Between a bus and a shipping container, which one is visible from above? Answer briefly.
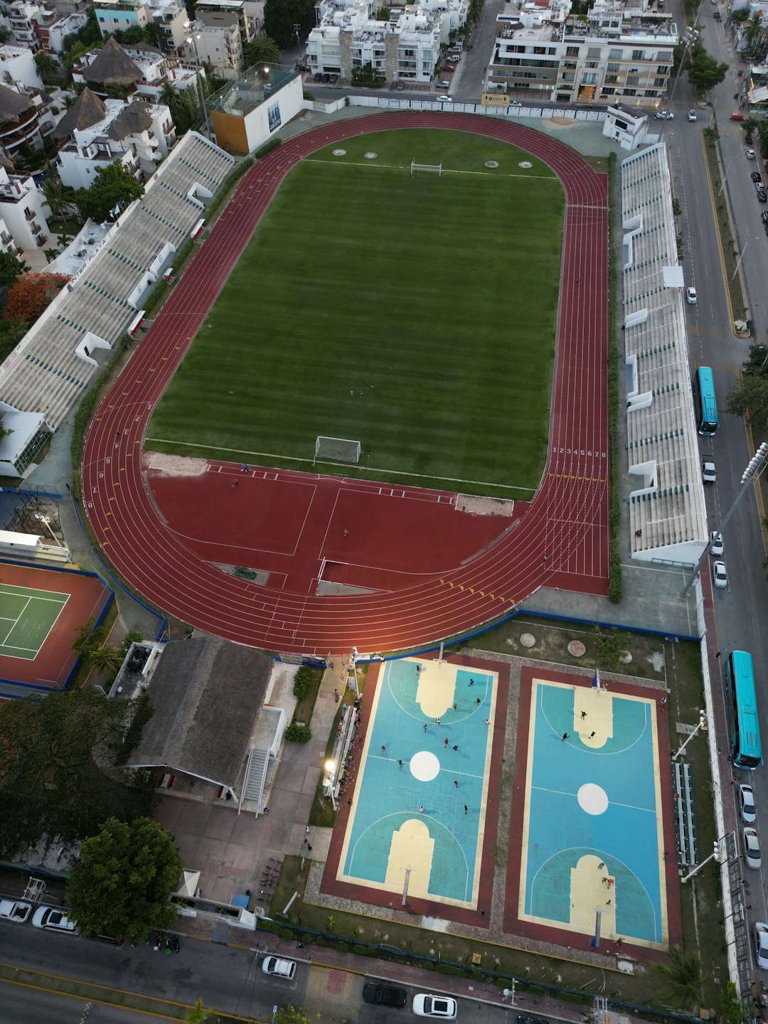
bus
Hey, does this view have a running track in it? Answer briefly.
Yes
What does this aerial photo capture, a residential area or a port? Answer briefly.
residential area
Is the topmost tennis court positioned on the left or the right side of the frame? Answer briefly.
left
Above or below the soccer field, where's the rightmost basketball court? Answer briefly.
below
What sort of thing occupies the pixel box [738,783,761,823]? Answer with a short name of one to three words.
car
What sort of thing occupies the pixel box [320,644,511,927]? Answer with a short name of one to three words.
basketball court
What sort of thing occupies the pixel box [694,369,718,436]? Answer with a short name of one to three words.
bus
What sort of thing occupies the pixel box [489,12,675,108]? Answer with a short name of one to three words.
building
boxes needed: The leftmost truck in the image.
[0,898,35,925]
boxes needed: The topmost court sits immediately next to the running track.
[0,565,106,683]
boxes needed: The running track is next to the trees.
[79,112,610,659]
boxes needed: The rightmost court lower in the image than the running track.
[499,667,684,971]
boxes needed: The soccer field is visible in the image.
[143,128,566,502]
